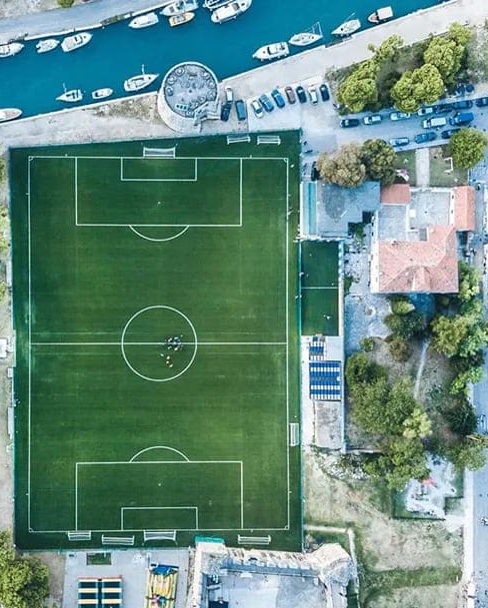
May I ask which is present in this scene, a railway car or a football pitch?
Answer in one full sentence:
It is a football pitch that can be seen here.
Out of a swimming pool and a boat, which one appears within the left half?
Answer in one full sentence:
The feature located within the left half is a boat.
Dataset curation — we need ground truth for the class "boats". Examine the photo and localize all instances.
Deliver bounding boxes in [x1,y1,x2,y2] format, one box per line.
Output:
[57,33,90,54]
[204,0,231,8]
[368,6,394,21]
[161,0,202,14]
[332,14,362,34]
[90,90,112,100]
[0,43,22,57]
[0,107,21,122]
[56,87,83,102]
[33,39,58,53]
[130,9,161,27]
[168,14,194,26]
[122,70,157,92]
[210,1,251,25]
[253,40,293,60]
[287,22,323,48]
